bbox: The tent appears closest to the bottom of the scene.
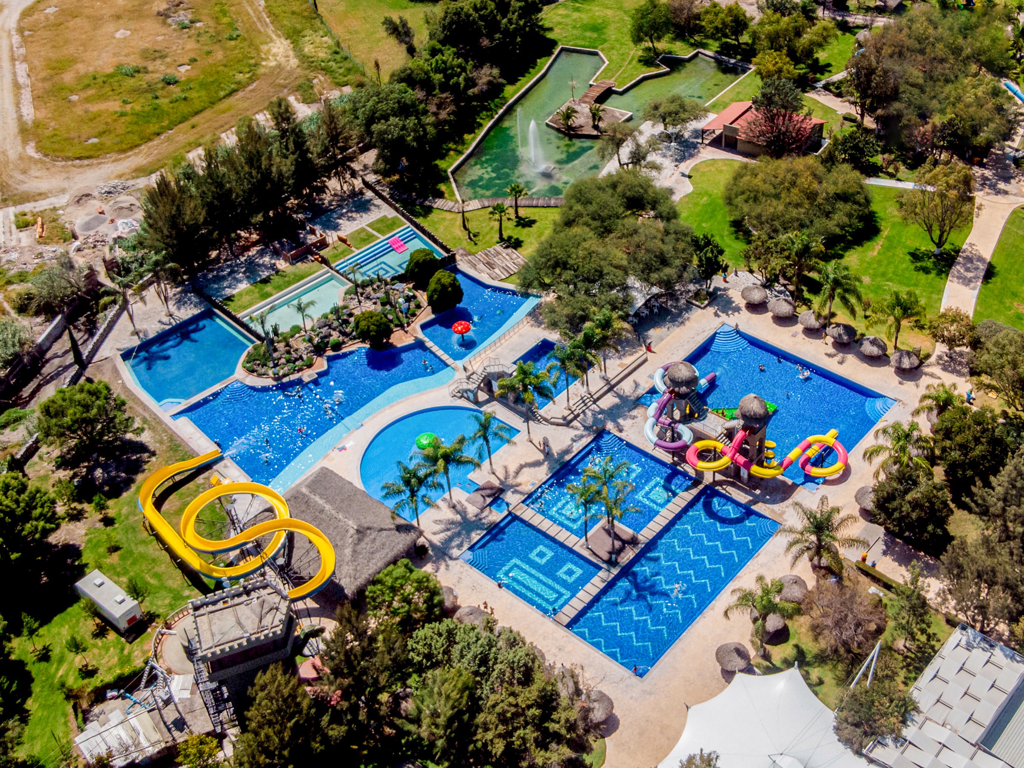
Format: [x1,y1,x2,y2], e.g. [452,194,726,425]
[647,658,871,768]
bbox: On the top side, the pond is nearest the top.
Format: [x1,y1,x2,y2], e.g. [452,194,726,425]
[449,47,756,204]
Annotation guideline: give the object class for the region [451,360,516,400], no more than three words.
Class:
bridge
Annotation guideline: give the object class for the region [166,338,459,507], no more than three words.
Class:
swimming pool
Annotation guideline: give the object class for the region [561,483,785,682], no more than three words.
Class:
swimming pool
